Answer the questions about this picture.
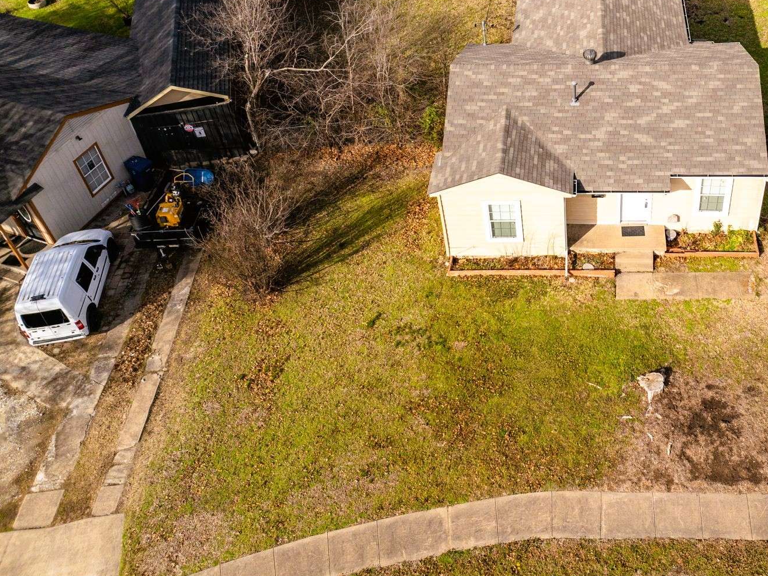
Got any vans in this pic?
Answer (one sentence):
Yes, this view includes a van.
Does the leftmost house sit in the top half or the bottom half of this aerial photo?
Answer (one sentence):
The leftmost house is in the top half of the image.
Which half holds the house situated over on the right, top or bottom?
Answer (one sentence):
The top half of the photo is where the house situated over on the right is.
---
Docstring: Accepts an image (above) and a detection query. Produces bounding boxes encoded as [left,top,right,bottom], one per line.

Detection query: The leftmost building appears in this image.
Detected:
[0,4,139,280]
